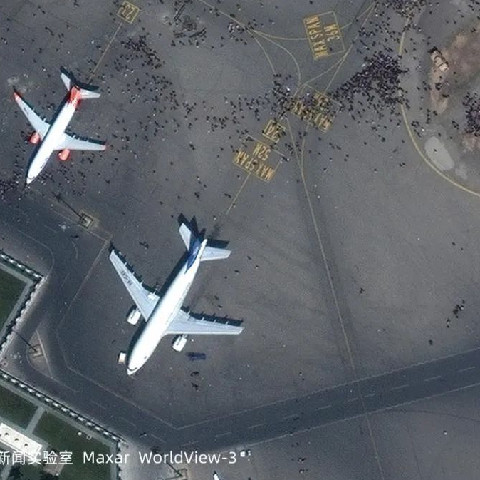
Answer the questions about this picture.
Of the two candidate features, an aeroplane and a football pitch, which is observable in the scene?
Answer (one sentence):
Of the two, only an aeroplane appears.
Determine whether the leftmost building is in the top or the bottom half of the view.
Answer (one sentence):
The leftmost building sits in the bottom half of the picture.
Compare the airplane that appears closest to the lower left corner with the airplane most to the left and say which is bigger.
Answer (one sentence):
It is the airplane that appears closest to the lower left corner that is larger, not the airplane most to the left.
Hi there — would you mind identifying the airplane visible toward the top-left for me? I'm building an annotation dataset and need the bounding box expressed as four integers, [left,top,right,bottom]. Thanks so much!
[13,73,106,183]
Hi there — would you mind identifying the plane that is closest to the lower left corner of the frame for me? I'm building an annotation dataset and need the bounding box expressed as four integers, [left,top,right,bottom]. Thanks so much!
[109,222,242,372]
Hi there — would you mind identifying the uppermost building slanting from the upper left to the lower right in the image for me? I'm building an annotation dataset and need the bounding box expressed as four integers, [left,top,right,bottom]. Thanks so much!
[0,422,42,457]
